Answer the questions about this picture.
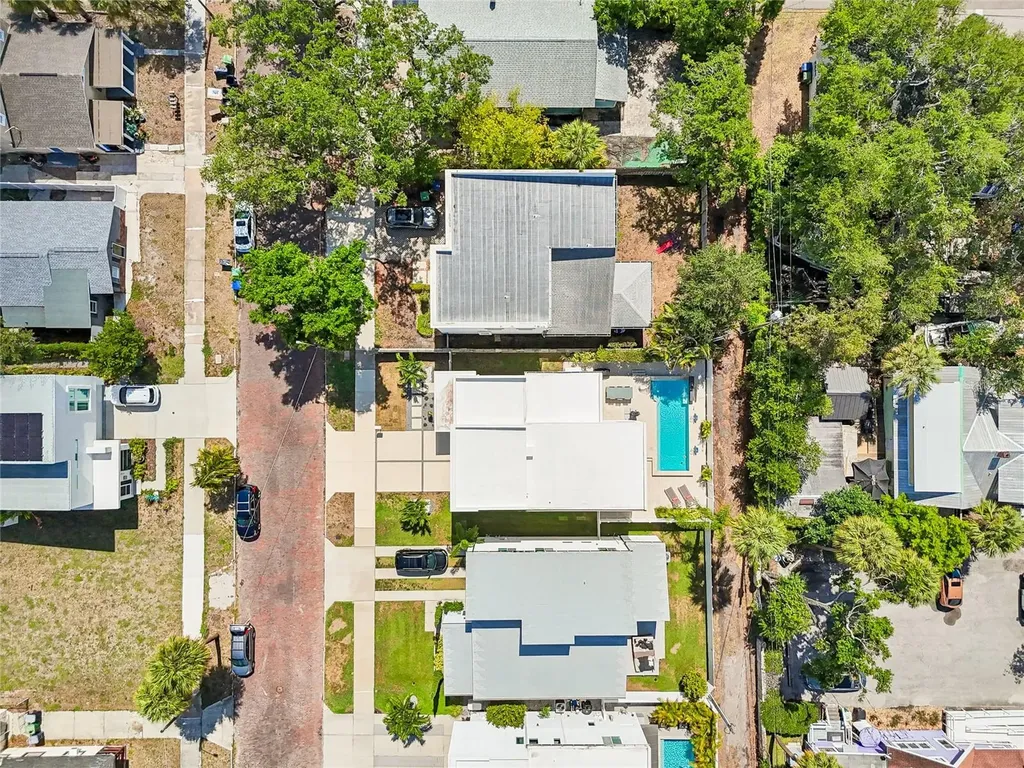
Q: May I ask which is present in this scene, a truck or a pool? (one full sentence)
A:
I can see a pool in this picture.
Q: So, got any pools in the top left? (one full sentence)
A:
No, there's no pool to be seen in the top left.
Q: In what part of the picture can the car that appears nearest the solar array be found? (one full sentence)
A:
The car that appears nearest the solar array appears toward the left of the photo.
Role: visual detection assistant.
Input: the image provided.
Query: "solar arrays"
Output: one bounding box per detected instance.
[0,413,42,460]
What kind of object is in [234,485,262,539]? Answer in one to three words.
car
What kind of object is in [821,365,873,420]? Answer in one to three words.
shed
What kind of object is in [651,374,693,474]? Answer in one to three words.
swimming pool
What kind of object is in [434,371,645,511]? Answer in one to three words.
house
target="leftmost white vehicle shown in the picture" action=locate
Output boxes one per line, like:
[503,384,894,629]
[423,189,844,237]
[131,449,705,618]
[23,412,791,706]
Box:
[116,384,168,410]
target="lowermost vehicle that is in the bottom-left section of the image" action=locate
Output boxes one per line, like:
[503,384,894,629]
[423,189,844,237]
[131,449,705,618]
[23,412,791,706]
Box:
[229,623,257,676]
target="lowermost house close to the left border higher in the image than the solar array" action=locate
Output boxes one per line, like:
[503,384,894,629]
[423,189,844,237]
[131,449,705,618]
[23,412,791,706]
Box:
[0,201,128,328]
